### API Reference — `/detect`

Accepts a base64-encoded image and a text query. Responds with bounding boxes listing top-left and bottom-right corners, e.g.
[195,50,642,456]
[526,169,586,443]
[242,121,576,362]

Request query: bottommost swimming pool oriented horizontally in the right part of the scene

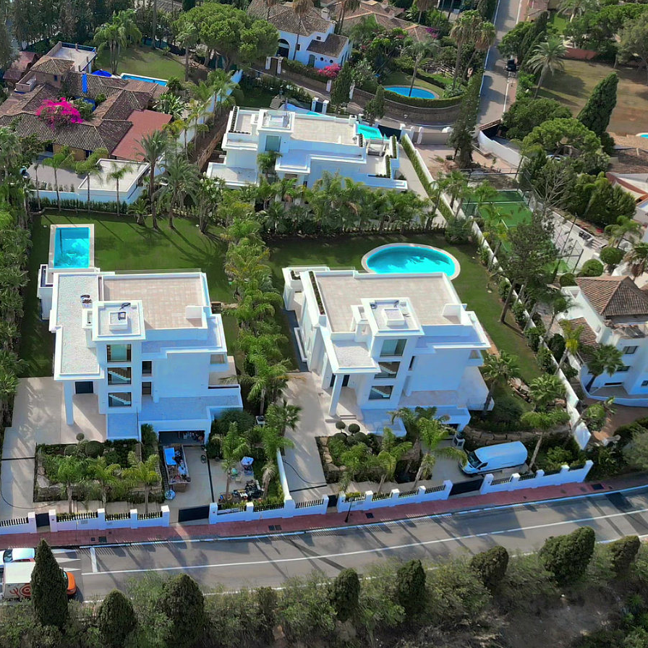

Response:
[360,240,461,273]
